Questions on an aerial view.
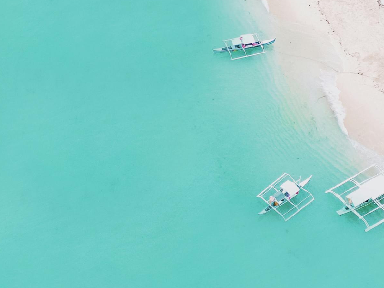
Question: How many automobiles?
none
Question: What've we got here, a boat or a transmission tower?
boat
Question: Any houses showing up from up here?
No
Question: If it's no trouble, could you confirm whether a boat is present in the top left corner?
No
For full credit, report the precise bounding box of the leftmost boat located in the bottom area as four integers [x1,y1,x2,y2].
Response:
[257,173,315,221]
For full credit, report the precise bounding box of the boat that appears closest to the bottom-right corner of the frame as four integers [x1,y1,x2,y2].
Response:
[325,164,384,231]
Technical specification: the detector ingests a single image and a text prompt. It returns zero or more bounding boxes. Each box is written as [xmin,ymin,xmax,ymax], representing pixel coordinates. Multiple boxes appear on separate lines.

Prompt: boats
[257,173,315,221]
[212,33,276,60]
[325,164,384,231]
